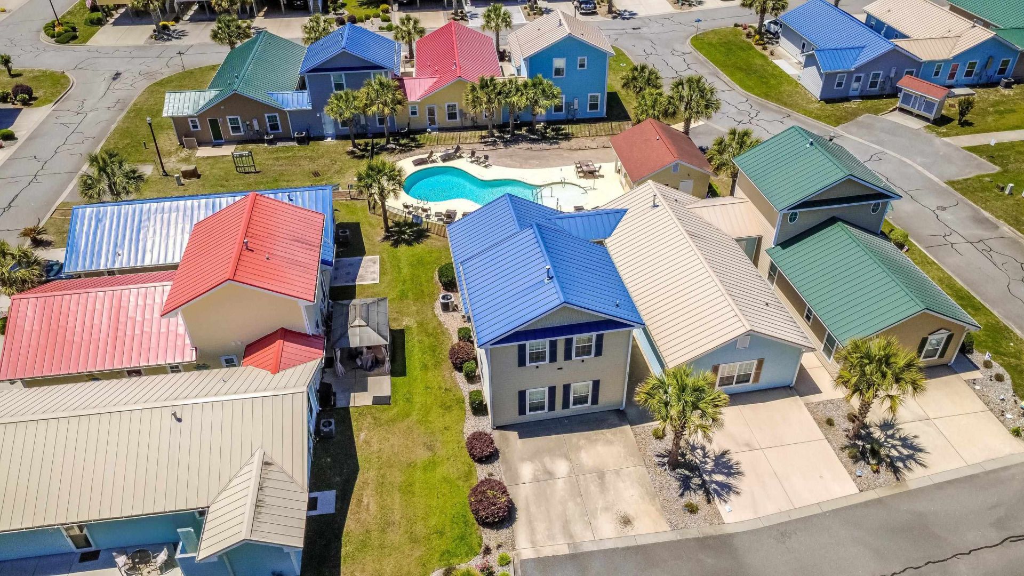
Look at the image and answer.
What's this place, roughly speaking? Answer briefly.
residential area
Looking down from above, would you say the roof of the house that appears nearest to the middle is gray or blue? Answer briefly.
blue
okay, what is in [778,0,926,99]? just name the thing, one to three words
house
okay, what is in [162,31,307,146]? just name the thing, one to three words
house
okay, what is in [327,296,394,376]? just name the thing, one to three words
gazebo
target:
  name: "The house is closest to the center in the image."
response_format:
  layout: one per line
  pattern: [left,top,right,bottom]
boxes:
[445,190,646,431]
